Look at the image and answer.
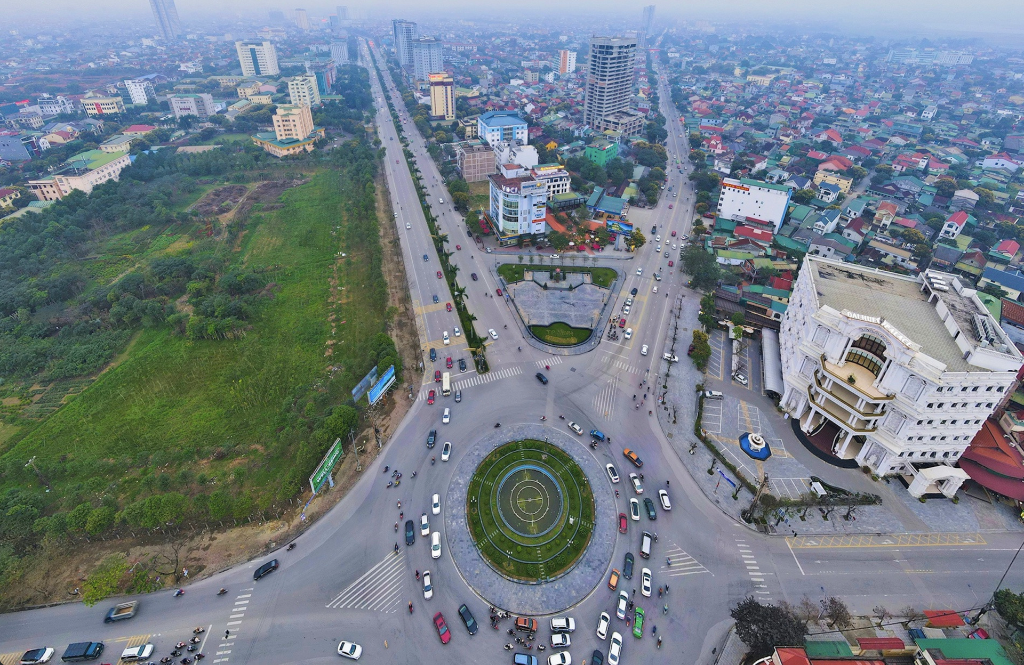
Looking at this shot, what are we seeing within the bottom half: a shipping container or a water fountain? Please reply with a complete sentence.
Visible within the bottom half is a water fountain.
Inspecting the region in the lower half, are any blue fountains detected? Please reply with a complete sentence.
Yes, in the lower half there is a blue fountain.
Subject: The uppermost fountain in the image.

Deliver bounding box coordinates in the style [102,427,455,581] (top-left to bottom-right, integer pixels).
[738,435,773,460]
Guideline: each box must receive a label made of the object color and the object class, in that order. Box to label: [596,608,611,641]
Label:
white car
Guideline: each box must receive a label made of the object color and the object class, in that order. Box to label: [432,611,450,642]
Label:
red car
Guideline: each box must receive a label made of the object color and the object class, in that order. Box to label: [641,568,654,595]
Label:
white vehicle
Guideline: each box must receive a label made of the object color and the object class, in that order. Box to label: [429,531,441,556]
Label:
white vehicle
